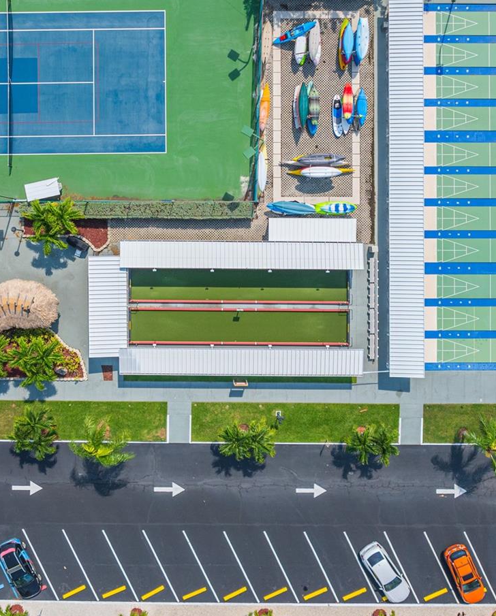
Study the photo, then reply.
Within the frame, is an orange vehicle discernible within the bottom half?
Yes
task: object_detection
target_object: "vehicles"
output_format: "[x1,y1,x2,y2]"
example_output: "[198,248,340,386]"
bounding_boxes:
[445,544,484,599]
[361,542,407,600]
[0,539,44,595]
